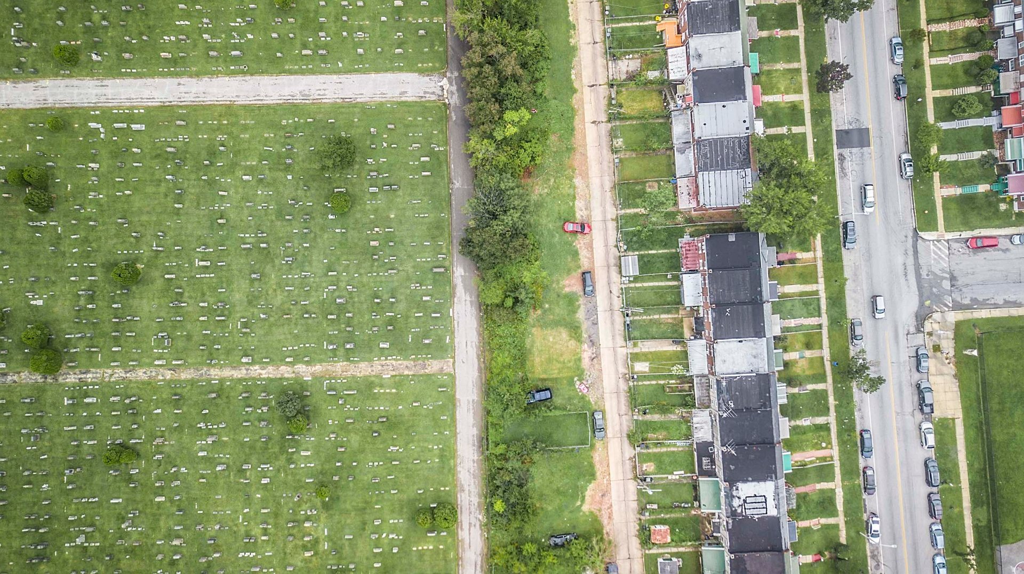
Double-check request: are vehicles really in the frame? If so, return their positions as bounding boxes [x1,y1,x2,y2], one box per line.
[917,420,934,450]
[888,36,904,66]
[913,345,929,375]
[525,387,555,404]
[581,269,596,298]
[561,221,591,235]
[870,294,886,321]
[931,551,947,574]
[928,520,944,551]
[916,380,933,414]
[861,465,876,495]
[592,409,606,439]
[859,184,876,213]
[865,513,881,542]
[923,457,939,487]
[858,428,873,458]
[966,236,999,250]
[849,316,864,346]
[891,74,907,101]
[897,151,913,181]
[841,220,857,249]
[925,490,943,521]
